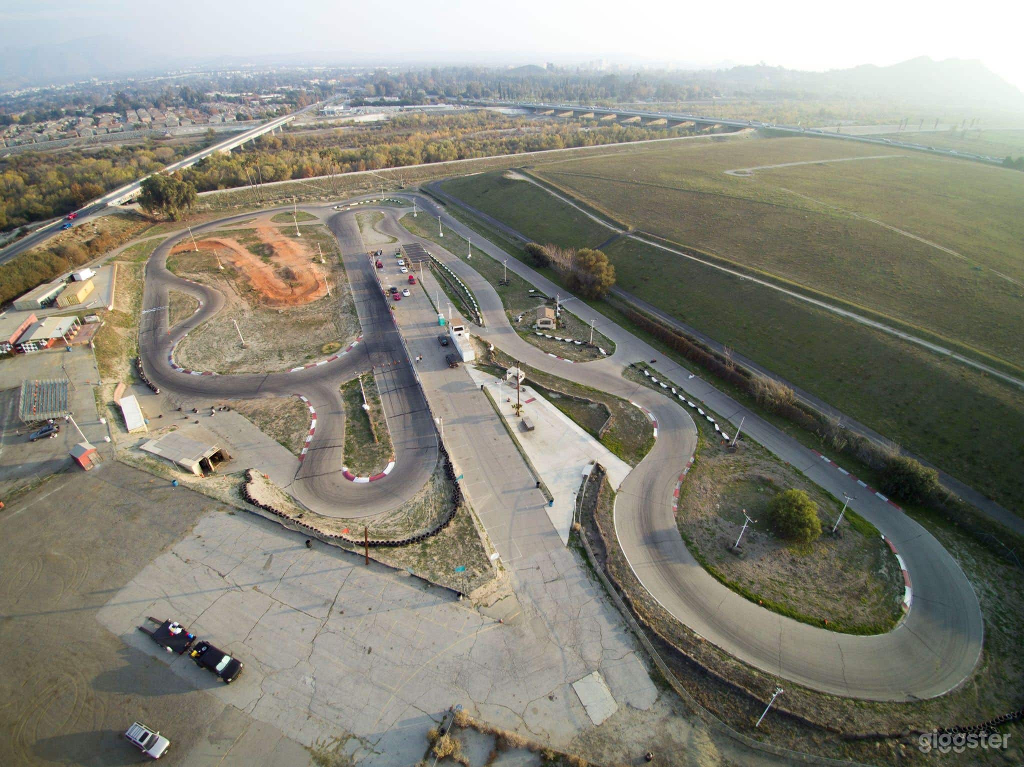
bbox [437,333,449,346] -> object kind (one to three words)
vehicle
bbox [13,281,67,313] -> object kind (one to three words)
building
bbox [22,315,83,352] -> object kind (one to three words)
building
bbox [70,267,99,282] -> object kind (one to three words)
vehicle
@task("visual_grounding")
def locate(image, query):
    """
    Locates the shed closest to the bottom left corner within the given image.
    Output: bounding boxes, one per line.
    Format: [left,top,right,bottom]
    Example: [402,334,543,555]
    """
[54,444,108,471]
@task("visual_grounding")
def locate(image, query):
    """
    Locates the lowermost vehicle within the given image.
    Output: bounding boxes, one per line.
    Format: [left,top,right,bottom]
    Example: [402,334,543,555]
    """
[118,718,173,762]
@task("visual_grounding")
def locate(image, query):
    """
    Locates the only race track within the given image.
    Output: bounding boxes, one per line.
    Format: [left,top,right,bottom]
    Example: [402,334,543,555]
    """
[126,192,983,702]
